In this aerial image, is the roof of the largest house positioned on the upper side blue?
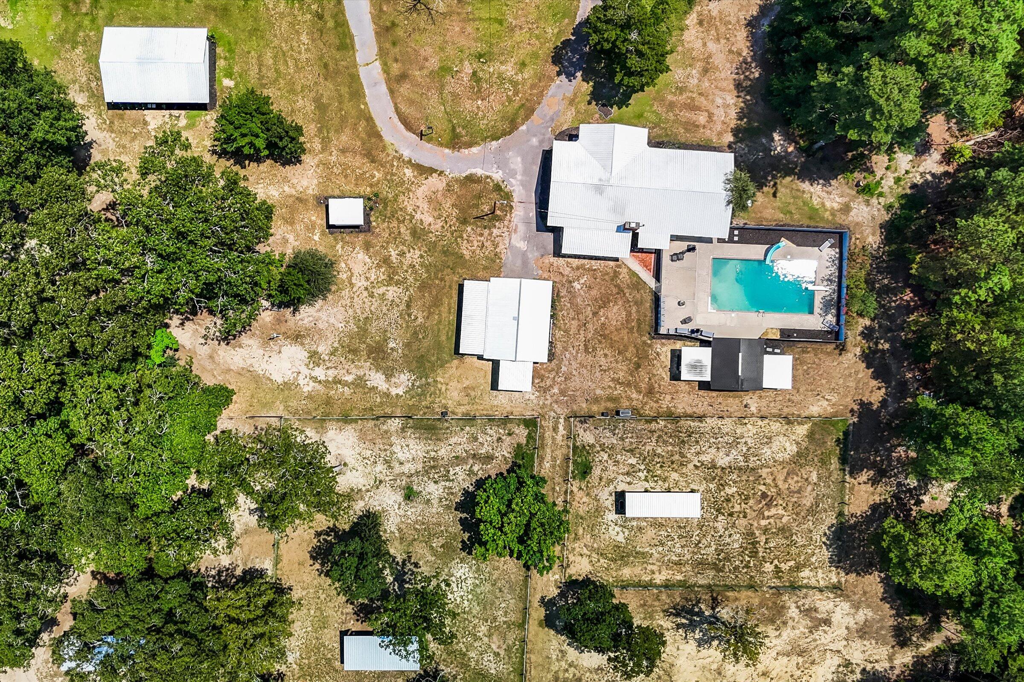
No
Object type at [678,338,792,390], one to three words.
building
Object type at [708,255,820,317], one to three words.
swimming pool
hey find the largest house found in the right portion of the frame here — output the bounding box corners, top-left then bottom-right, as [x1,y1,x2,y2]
[547,124,734,258]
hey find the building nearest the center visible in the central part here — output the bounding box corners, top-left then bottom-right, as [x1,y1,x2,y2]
[460,277,552,391]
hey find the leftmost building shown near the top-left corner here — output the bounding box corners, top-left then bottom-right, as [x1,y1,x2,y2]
[99,27,214,106]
